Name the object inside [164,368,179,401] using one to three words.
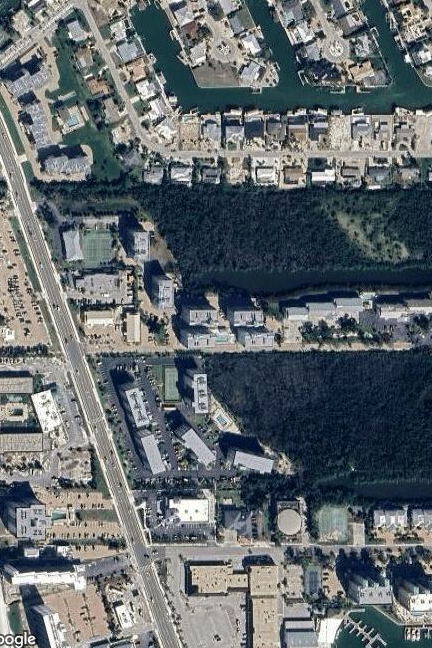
tennis court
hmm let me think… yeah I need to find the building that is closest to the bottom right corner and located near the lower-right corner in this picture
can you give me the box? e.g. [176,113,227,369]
[396,575,432,612]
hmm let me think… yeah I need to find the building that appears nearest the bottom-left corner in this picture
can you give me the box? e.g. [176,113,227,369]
[33,604,71,648]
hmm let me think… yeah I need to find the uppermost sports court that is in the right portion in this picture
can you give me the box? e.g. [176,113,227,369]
[321,506,348,542]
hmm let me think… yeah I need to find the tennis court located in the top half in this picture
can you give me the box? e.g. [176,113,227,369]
[83,232,112,264]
